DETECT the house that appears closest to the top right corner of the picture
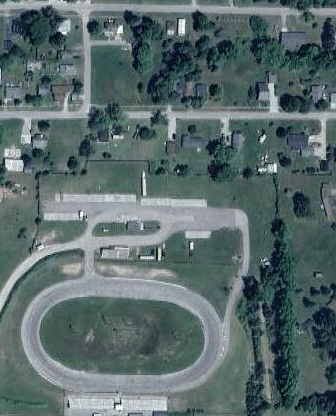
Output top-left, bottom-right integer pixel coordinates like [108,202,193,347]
[280,30,309,50]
